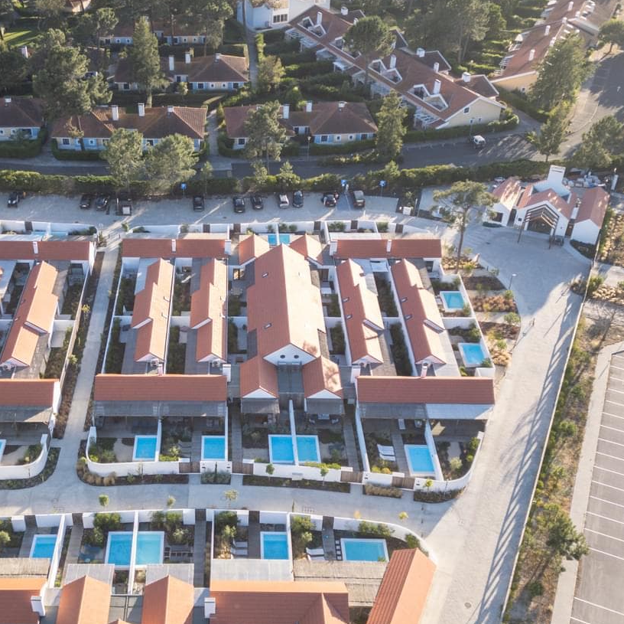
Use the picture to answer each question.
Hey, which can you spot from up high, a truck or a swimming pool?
swimming pool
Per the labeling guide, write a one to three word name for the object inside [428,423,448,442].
umbrella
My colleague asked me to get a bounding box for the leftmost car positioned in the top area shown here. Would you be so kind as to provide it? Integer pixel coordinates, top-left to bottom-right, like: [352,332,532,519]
[4,190,24,207]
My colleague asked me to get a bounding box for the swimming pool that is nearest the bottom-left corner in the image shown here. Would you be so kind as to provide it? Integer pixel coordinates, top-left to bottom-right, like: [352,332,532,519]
[27,536,59,570]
